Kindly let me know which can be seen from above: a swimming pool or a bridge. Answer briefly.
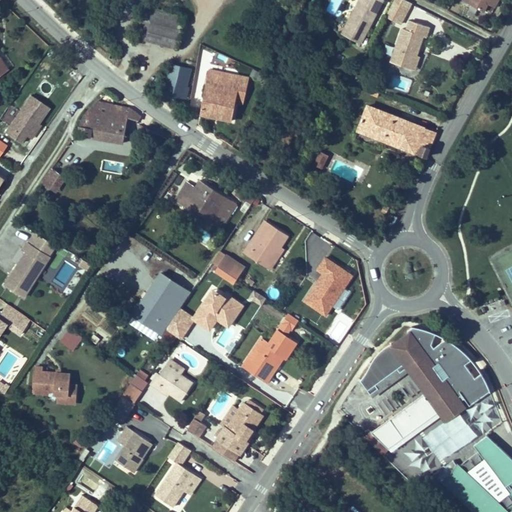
swimming pool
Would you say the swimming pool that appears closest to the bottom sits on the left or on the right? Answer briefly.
left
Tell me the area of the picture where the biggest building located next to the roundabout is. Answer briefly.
bottom right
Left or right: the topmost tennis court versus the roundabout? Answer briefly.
to its right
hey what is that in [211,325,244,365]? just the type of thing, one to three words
swimming pool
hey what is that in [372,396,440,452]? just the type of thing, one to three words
building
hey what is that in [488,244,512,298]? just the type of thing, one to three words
tennis court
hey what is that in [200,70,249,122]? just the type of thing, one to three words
house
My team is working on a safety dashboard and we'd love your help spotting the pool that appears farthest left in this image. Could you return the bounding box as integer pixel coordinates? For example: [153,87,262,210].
[0,346,27,383]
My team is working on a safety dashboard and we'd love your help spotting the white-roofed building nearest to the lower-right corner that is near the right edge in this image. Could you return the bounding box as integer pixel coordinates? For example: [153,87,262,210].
[469,460,509,502]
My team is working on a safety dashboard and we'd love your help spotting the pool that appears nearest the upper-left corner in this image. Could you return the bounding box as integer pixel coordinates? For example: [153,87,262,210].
[100,159,124,174]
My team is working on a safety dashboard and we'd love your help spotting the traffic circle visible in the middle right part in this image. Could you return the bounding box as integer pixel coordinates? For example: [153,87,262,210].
[369,232,449,311]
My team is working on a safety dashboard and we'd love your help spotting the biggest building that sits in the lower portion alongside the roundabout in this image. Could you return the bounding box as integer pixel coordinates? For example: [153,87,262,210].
[360,330,490,424]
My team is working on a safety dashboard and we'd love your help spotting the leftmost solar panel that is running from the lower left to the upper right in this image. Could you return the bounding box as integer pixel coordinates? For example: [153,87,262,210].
[20,262,44,291]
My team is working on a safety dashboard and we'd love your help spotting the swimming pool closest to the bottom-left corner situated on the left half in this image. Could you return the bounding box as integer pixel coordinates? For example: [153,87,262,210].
[93,436,120,468]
